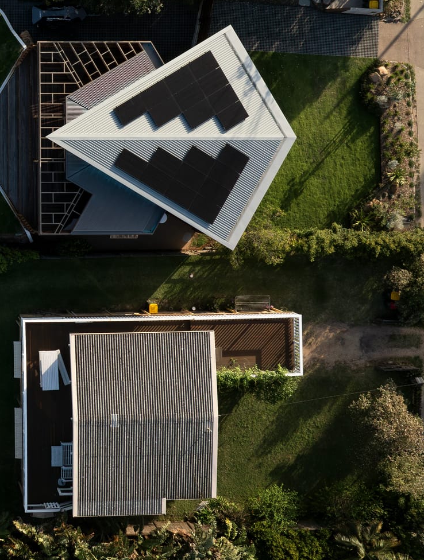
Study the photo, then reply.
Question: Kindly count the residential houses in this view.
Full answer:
In total, 2 residential houses can be seen.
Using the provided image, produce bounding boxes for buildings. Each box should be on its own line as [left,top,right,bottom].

[13,307,303,518]
[30,26,296,249]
